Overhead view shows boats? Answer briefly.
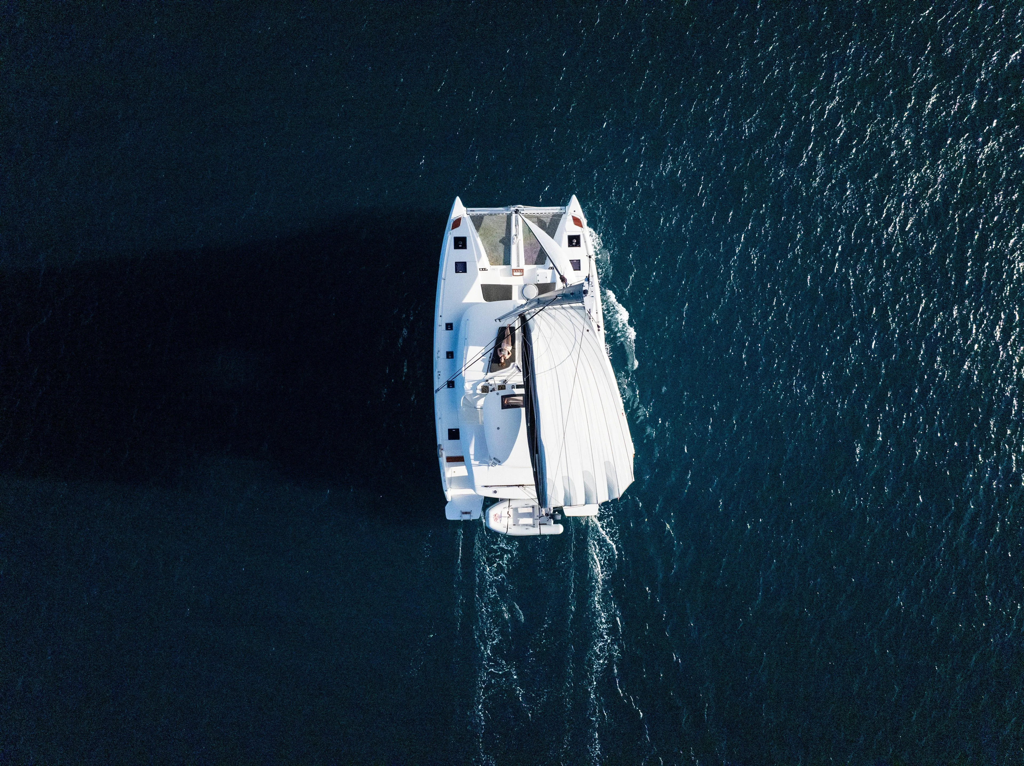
Yes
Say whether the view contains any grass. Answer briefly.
No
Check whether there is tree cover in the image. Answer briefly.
No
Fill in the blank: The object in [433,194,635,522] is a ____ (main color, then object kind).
white boat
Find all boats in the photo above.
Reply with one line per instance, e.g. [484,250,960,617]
[485,498,564,536]
[433,194,635,522]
